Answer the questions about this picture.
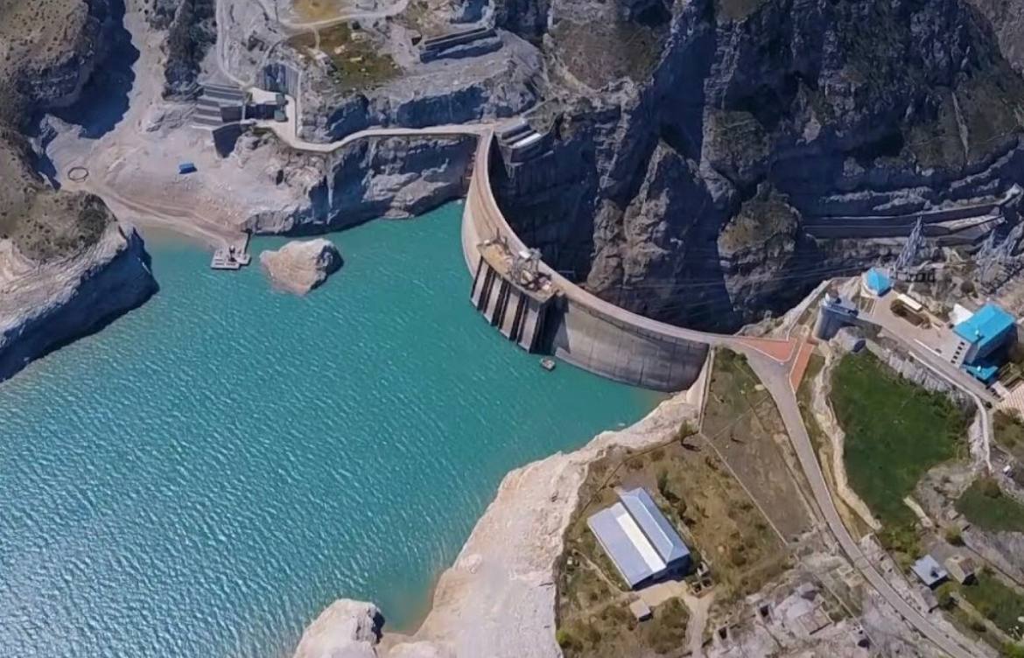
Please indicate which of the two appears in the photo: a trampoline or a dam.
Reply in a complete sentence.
Looking from above, you can make out a dam.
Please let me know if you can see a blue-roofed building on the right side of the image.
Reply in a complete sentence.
Yes, a blue-roofed building appears on the right side of the image.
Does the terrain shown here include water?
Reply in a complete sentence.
Yes, water can be seen from above here.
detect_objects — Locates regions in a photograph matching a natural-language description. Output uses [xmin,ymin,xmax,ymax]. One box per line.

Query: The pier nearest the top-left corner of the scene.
[211,231,252,269]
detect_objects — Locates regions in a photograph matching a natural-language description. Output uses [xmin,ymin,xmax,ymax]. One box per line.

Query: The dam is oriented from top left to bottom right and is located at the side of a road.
[460,129,712,393]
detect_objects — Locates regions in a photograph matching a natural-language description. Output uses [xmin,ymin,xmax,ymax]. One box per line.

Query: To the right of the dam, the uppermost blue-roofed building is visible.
[861,273,893,297]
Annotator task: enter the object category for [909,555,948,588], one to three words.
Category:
shed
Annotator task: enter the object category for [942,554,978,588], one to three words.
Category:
house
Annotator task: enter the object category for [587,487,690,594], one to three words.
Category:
building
